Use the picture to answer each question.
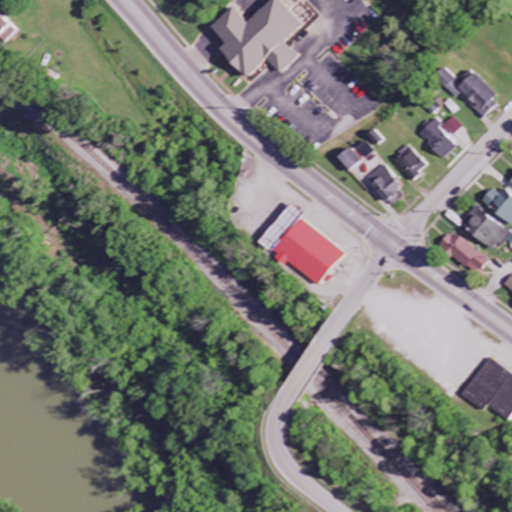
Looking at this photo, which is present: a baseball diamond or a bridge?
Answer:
bridge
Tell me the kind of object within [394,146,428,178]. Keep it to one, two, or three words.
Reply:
house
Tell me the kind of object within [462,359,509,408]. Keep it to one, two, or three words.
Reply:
building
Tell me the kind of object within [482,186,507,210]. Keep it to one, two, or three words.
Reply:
house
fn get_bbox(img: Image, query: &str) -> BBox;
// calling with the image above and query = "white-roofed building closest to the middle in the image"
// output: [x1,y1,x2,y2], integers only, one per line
[260,206,304,249]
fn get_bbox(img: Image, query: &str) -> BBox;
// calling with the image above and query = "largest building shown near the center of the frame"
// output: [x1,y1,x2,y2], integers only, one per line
[272,218,343,284]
